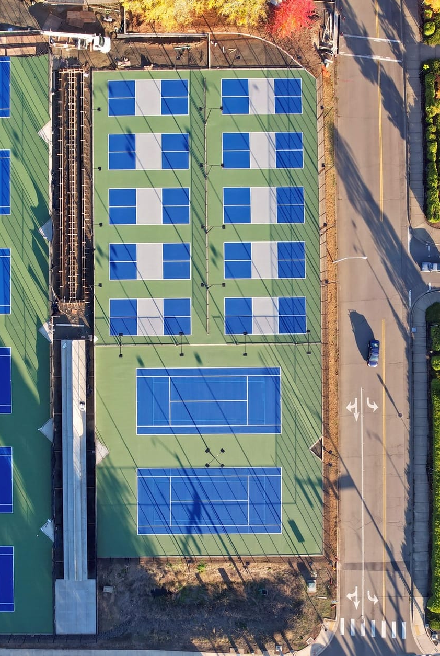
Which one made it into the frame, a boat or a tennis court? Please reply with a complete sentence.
It is a tennis court that can be seen here.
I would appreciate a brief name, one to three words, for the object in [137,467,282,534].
tennis court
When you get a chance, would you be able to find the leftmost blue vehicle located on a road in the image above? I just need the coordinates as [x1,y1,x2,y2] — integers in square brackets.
[364,338,380,368]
